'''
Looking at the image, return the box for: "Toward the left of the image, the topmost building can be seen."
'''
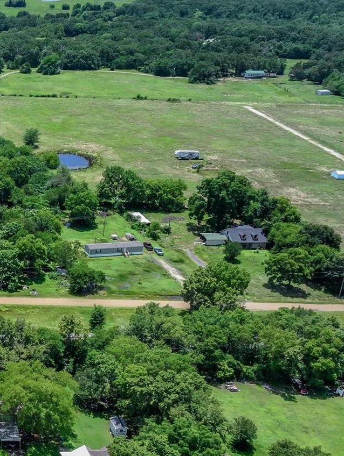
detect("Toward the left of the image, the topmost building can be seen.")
[84,241,143,260]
